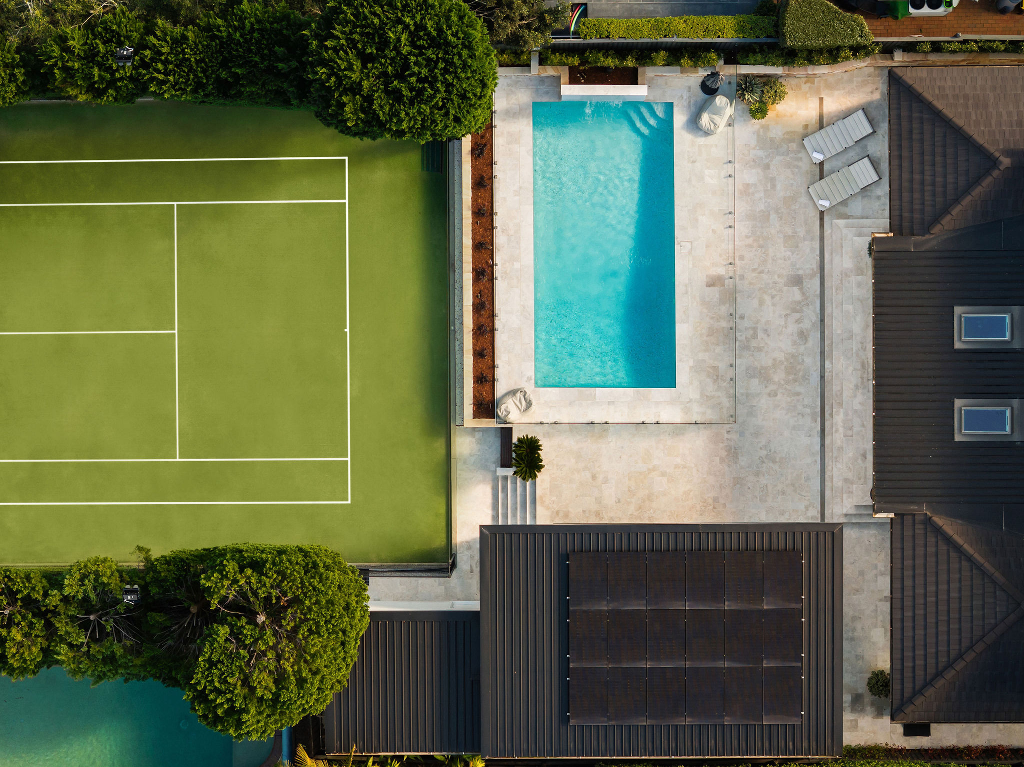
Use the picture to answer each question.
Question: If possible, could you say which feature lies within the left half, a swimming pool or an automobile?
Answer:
swimming pool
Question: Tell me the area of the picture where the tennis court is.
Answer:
left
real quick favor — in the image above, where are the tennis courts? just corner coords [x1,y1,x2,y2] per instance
[0,100,448,565]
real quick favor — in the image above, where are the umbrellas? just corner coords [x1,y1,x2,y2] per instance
[701,67,724,95]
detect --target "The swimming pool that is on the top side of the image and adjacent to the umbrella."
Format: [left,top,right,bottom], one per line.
[520,89,687,400]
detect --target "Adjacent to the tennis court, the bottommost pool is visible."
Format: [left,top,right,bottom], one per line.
[0,650,273,767]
